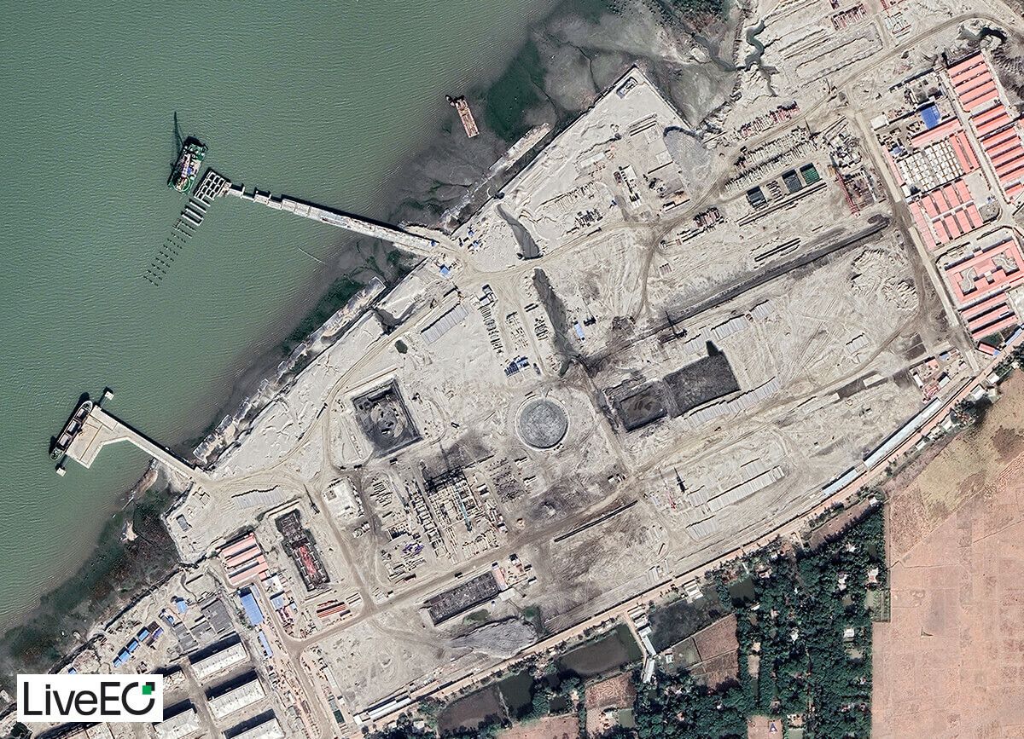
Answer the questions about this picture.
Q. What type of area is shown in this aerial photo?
port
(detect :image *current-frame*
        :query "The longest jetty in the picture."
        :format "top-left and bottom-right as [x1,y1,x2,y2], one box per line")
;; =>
[228,185,438,252]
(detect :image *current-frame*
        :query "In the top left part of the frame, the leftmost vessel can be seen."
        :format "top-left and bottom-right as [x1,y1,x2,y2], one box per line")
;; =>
[169,142,208,192]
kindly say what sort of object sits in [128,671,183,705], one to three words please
building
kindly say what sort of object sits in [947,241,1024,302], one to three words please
building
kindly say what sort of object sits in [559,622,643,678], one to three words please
pond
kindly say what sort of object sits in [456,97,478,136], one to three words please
ship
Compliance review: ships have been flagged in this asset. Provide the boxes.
[169,142,208,192]
[49,400,92,460]
[456,97,478,136]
